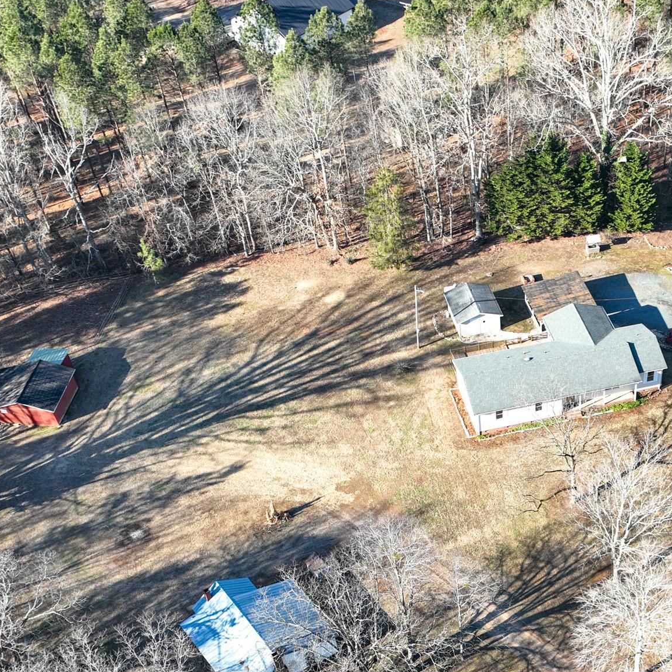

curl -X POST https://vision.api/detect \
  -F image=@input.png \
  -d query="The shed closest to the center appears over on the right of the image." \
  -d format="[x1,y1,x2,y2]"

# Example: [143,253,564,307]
[445,282,503,343]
